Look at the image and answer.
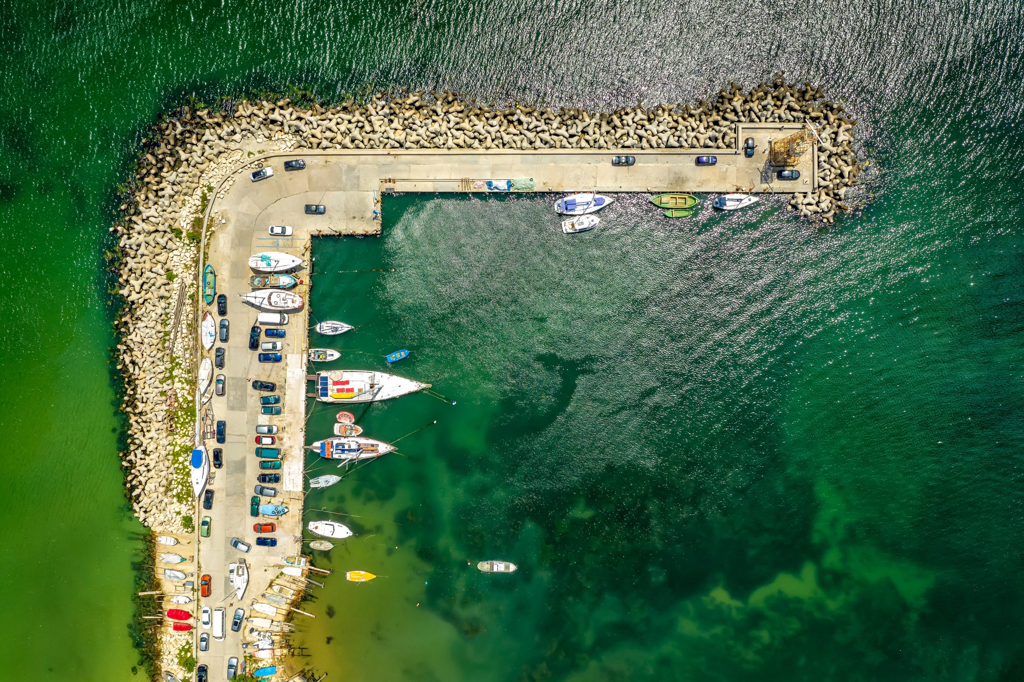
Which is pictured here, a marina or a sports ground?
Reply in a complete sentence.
It's a marina.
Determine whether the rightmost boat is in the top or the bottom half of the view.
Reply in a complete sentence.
Seen from above, the rightmost boat lies in the top half of the view.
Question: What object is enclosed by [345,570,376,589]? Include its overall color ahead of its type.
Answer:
yellow boat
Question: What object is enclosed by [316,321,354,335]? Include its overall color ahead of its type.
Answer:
white boat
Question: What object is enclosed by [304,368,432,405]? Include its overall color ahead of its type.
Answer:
white boat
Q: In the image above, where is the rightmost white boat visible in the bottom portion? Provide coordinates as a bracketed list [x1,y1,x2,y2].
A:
[477,560,518,575]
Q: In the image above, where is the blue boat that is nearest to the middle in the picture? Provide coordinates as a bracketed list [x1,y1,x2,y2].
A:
[386,350,409,362]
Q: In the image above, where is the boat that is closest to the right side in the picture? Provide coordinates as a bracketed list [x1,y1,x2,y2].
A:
[711,189,760,210]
